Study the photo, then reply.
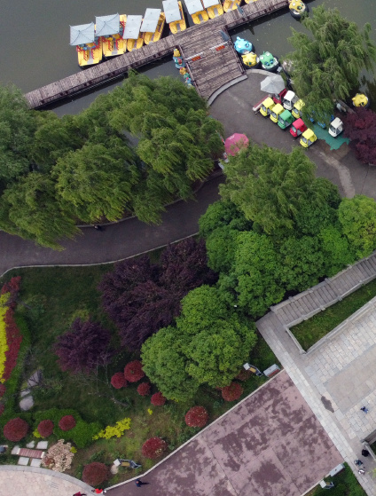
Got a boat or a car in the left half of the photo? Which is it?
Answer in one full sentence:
The feature located in the left half of the photo is a boat.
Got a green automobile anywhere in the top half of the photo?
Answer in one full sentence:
Yes, a green automobile can be seen in the top half of the photo.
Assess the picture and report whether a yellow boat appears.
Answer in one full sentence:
Yes, the image includes a yellow boat.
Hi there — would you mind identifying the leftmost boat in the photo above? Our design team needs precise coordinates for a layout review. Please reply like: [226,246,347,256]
[65,18,102,64]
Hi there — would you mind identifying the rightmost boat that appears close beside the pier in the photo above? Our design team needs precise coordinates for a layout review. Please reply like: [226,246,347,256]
[287,1,308,20]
